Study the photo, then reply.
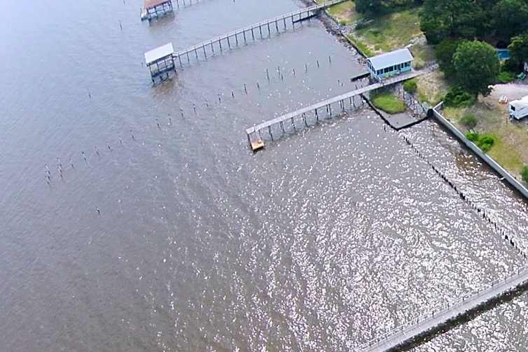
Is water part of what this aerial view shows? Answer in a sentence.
Yes, there is water in the image.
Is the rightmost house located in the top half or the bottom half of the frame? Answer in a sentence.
The rightmost house sits in the top half of the picture.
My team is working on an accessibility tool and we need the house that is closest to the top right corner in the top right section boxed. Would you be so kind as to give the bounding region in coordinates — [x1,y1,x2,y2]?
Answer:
[366,44,418,92]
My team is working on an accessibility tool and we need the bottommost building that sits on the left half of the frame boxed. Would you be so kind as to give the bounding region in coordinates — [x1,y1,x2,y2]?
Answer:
[138,45,181,83]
